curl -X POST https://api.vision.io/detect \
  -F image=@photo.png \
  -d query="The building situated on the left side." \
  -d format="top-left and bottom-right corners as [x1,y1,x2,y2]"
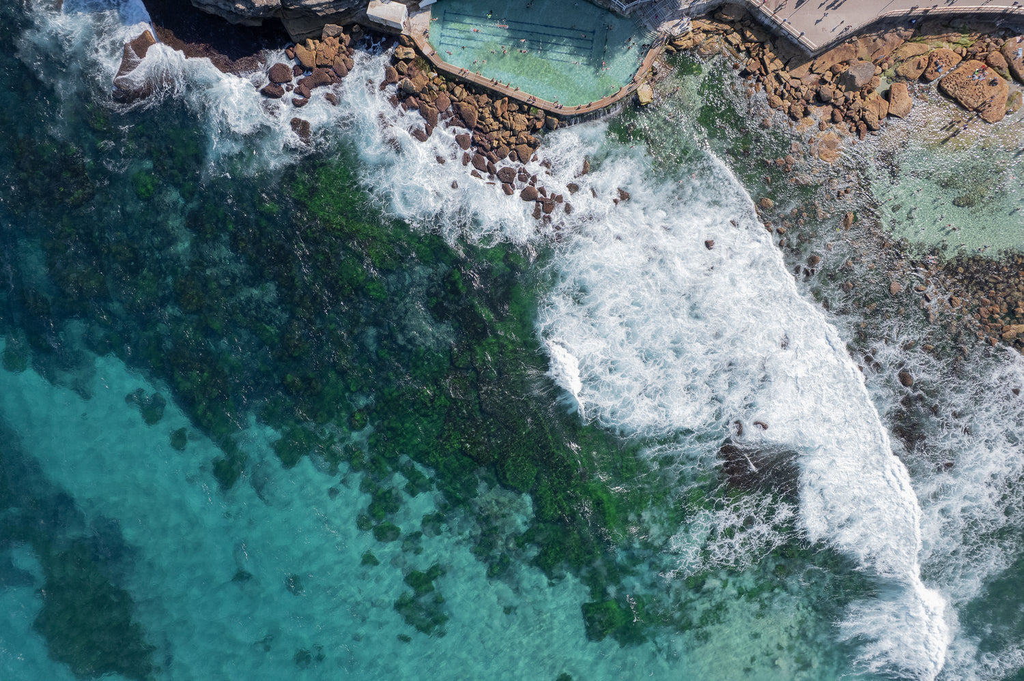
[367,0,410,34]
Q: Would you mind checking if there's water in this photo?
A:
Yes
